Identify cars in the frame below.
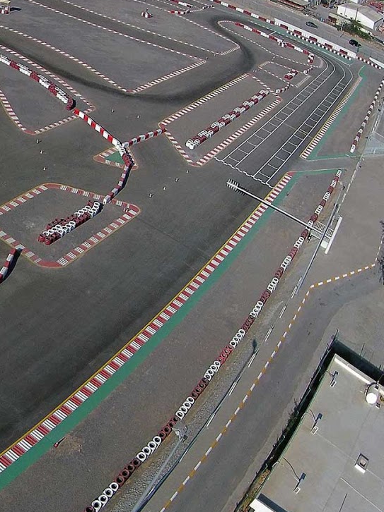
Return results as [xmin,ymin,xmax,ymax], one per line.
[305,21,319,30]
[349,39,363,47]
